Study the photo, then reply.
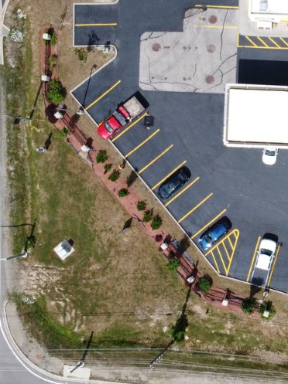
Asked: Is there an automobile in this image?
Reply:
Yes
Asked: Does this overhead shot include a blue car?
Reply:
Yes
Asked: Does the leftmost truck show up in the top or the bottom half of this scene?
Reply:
top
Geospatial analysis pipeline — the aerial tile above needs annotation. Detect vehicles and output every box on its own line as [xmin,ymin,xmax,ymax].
[158,165,192,200]
[98,97,146,141]
[263,147,280,165]
[250,238,275,289]
[198,219,231,251]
